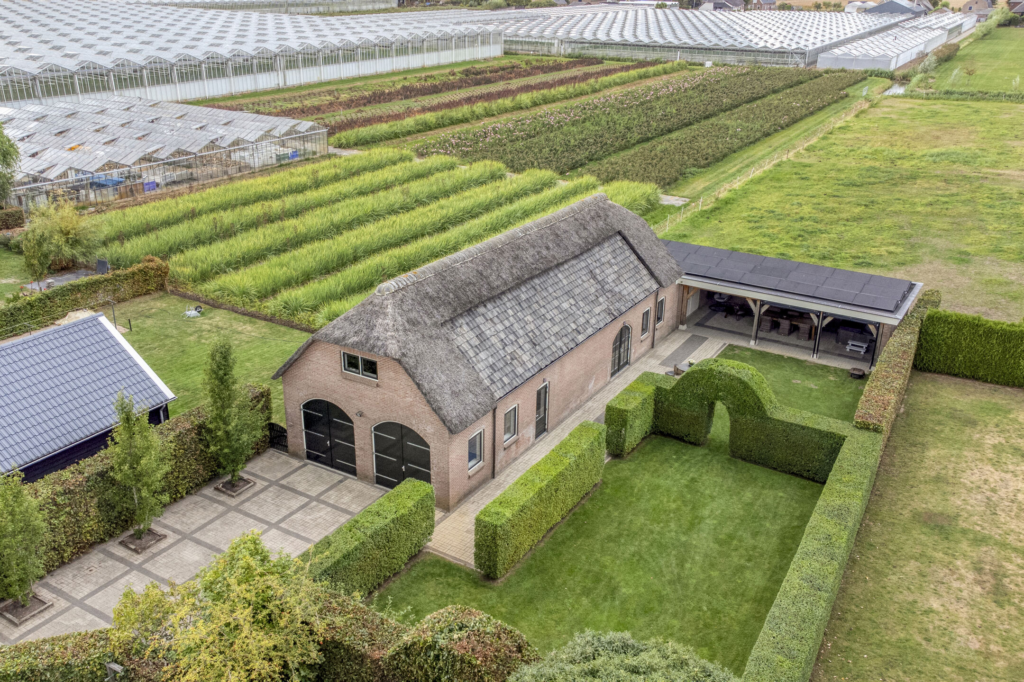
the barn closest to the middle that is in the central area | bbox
[267,189,712,513]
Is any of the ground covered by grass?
Yes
